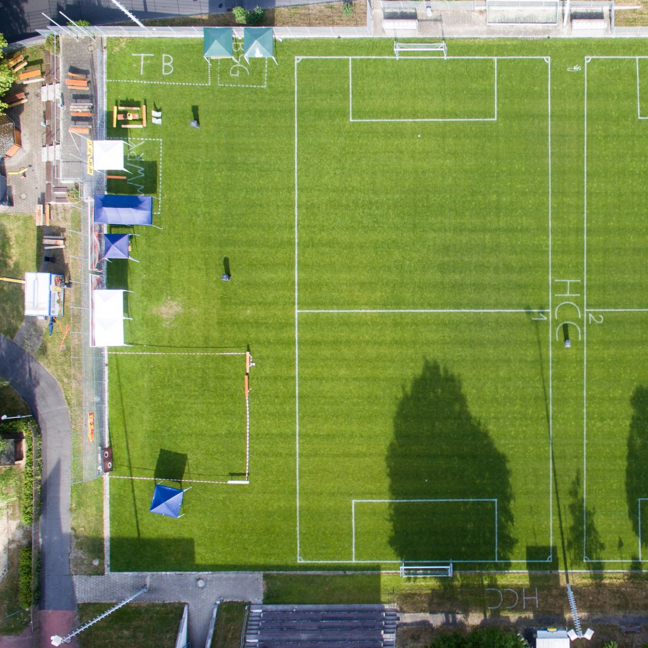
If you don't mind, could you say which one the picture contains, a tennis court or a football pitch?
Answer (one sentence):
The image shows a football pitch.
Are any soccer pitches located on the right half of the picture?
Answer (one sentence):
Yes, a soccer pitch appears on the right half of the picture.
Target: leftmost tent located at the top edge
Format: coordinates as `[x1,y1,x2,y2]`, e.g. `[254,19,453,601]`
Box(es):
[204,27,242,65]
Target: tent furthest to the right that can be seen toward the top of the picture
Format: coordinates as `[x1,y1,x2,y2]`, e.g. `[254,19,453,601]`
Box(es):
[244,27,280,65]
